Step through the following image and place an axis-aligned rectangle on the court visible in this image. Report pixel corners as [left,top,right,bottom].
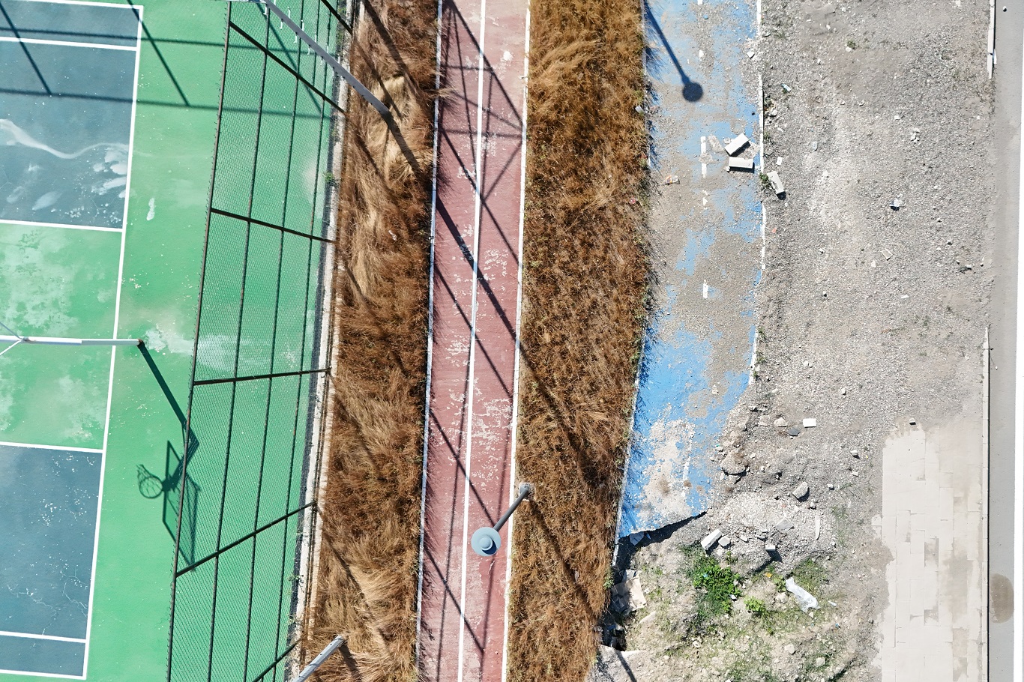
[0,0,342,682]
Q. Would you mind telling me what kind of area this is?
sports ground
